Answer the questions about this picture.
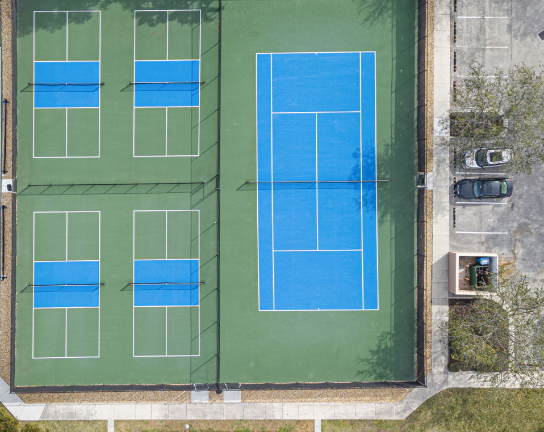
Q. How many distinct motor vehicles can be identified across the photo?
2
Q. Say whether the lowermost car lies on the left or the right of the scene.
right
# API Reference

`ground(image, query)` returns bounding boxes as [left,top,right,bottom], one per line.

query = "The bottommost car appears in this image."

[458,177,512,201]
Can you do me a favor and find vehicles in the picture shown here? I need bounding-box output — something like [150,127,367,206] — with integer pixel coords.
[458,177,512,201]
[462,146,514,171]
